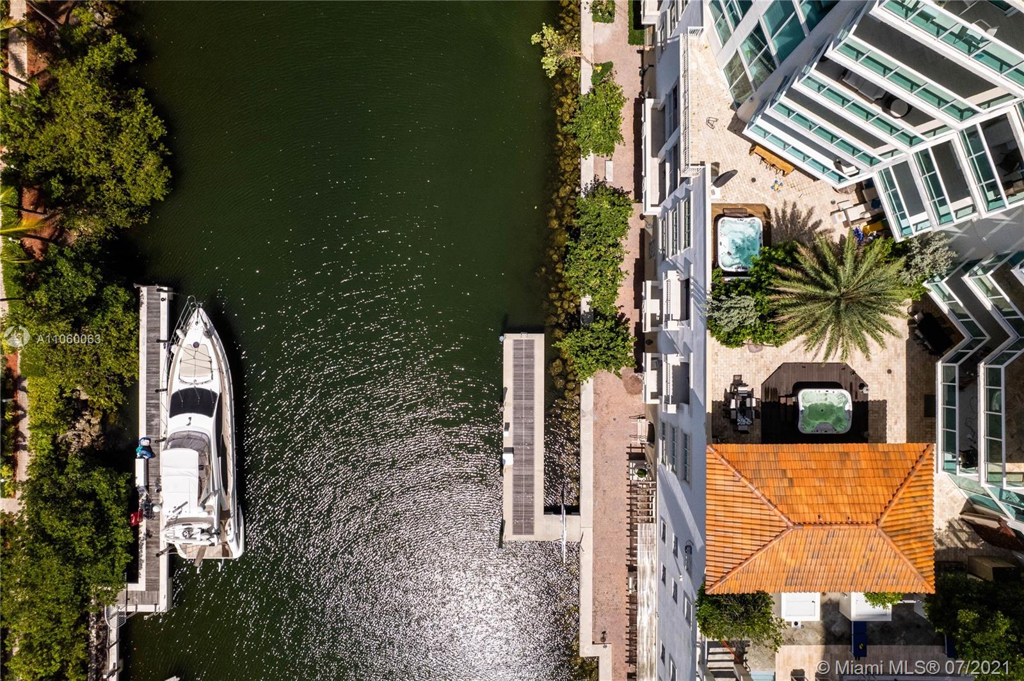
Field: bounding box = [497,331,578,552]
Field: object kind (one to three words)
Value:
pier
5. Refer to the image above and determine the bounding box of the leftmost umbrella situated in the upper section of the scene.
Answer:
[712,169,738,203]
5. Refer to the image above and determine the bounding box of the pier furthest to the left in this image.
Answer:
[118,284,178,616]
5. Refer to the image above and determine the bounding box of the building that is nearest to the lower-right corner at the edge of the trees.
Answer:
[703,442,939,597]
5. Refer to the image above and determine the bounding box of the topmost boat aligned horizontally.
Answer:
[152,525,213,547]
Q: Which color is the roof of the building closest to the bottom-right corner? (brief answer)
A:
orange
